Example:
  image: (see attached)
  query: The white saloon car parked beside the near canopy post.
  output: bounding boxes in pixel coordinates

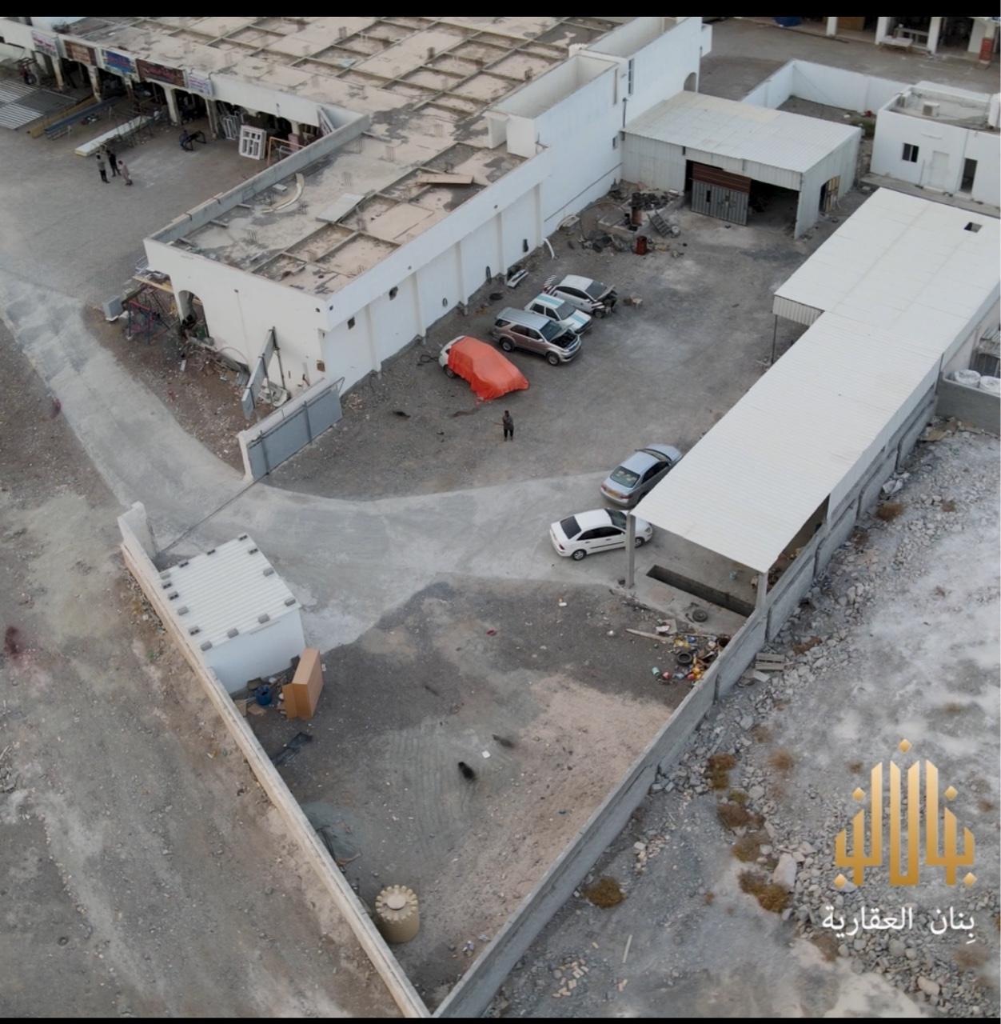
[553,508,657,560]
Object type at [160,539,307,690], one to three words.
shed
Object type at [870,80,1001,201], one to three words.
house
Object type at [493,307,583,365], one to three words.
car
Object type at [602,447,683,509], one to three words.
car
